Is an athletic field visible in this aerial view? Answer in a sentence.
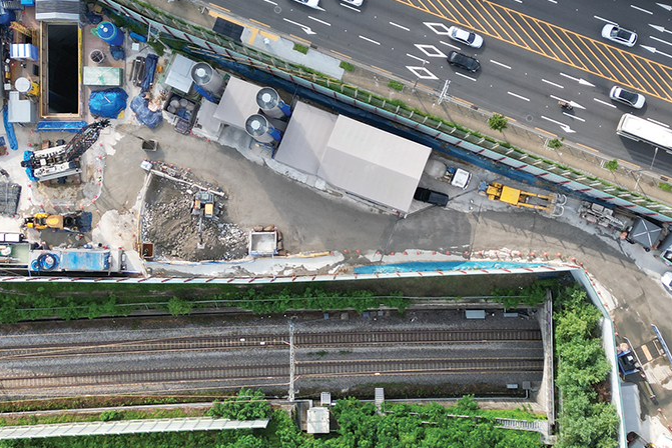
No, the frame has no athletic field in it.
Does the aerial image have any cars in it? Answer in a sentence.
Yes, a car appears in the view.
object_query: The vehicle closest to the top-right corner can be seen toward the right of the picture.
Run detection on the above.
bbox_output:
[598,22,639,47]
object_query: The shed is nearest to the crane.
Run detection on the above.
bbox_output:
[9,101,42,124]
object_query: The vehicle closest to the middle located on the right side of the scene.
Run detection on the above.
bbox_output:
[410,184,454,210]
